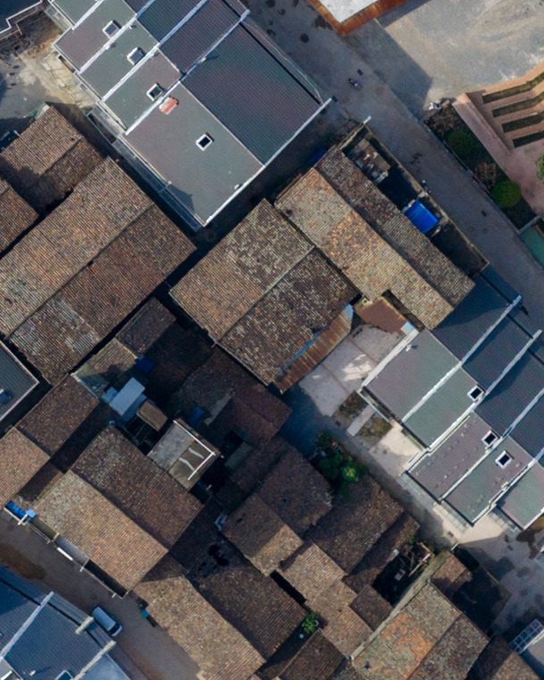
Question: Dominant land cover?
buildings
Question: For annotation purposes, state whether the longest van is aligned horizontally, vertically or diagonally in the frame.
diagonally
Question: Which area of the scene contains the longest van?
bottom left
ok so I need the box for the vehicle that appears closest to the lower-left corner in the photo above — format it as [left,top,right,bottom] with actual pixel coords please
[90,603,123,638]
